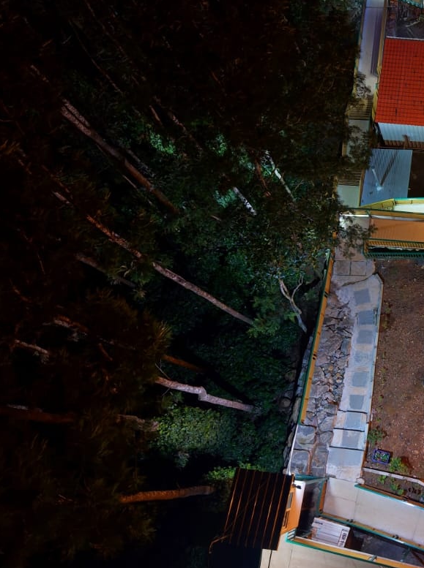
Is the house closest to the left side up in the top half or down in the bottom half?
bottom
